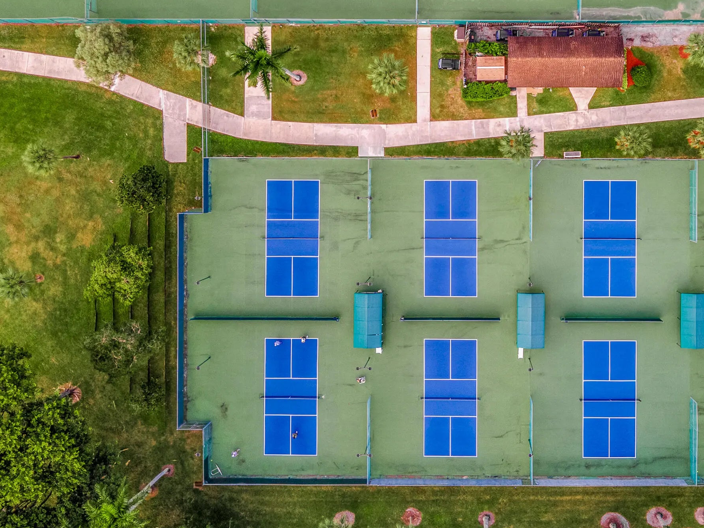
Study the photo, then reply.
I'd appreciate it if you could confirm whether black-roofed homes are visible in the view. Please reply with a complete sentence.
No, there is no black-roofed home in the image.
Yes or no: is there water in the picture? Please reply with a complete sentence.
No, the scene doesn't show any water.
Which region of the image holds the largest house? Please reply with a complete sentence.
Look in the top right portion of the view to spot the largest house.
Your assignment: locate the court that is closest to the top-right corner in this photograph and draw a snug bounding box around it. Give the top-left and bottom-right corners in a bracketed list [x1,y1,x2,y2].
[582,180,638,298]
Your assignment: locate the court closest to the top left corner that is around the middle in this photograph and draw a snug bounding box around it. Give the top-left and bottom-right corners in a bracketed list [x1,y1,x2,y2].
[265,179,321,297]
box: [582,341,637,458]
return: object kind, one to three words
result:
sports court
